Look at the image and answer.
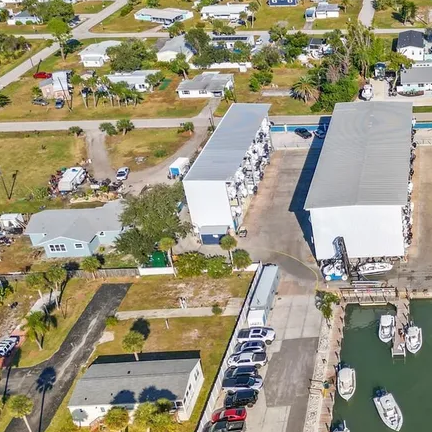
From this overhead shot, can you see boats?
Yes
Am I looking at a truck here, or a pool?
truck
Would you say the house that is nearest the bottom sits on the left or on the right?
left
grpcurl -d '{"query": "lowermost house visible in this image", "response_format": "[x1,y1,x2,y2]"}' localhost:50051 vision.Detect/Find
[64,358,201,432]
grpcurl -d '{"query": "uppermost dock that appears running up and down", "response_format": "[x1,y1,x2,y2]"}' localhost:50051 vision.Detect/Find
[392,299,408,360]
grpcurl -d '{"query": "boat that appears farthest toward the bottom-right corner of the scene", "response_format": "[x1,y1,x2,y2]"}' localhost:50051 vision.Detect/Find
[369,381,401,432]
